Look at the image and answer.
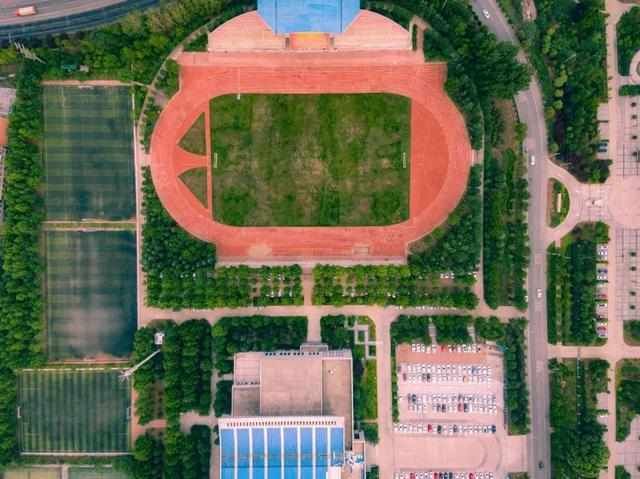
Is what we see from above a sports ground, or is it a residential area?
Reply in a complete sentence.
This looks like a sports ground.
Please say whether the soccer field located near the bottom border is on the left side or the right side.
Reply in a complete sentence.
The soccer field located near the bottom border appears in the left half of the scene.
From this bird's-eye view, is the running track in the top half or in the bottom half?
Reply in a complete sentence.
It is in the top half that the running track appears.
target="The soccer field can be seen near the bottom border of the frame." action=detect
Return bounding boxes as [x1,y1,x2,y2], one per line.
[18,368,131,455]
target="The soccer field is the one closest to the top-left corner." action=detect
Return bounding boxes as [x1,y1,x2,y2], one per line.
[43,85,134,219]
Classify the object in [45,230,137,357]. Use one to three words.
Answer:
soccer field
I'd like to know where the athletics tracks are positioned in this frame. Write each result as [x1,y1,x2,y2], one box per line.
[149,51,471,259]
